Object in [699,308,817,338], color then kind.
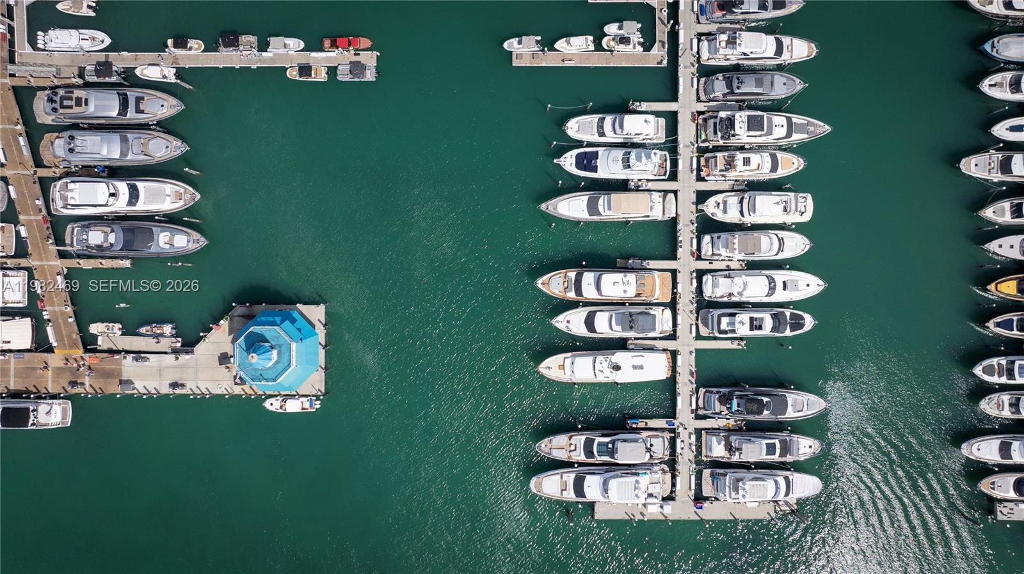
white boat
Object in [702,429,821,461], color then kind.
white boat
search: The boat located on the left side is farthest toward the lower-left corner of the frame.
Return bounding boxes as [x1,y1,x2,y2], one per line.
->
[0,398,72,430]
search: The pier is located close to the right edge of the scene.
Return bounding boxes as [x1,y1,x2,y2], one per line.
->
[990,499,1024,520]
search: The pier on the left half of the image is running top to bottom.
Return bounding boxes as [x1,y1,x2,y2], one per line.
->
[0,0,133,353]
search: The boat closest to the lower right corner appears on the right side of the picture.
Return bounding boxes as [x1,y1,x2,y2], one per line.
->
[977,472,1024,501]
